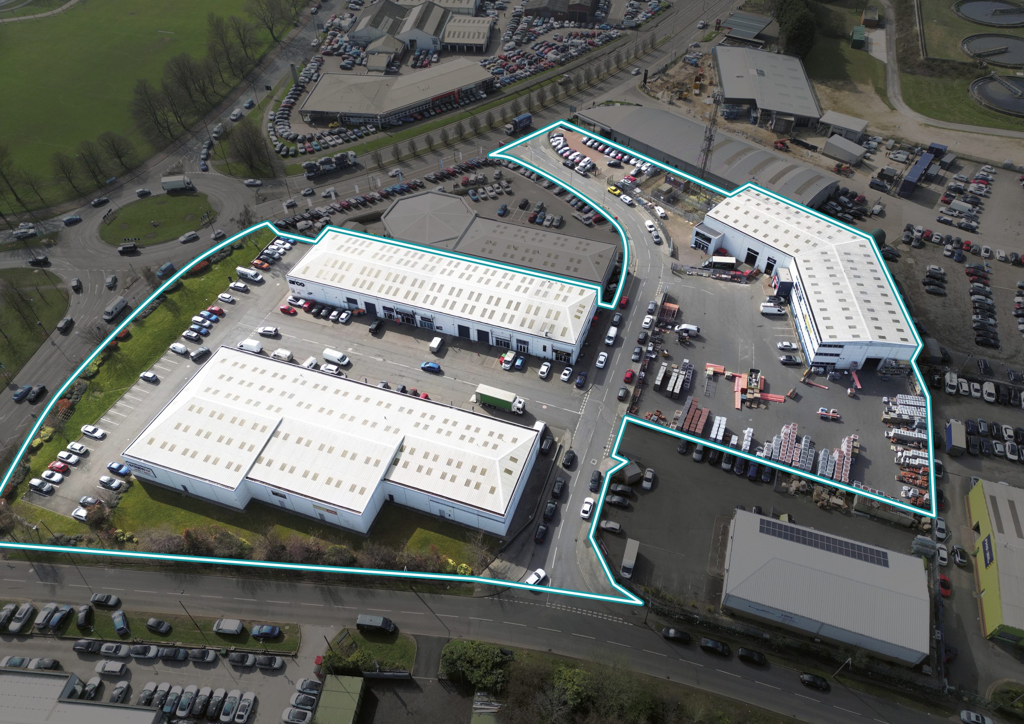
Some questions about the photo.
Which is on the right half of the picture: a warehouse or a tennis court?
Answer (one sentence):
The one visible on the right half of the picture is a warehouse.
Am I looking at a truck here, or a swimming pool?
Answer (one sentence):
The image shows a truck.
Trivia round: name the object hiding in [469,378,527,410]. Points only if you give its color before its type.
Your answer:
white truck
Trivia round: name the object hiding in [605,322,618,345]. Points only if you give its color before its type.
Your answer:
white vehicle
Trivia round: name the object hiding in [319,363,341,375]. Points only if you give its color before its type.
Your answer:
white vehicle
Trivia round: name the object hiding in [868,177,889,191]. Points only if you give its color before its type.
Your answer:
black vehicle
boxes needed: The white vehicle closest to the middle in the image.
[503,350,515,368]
